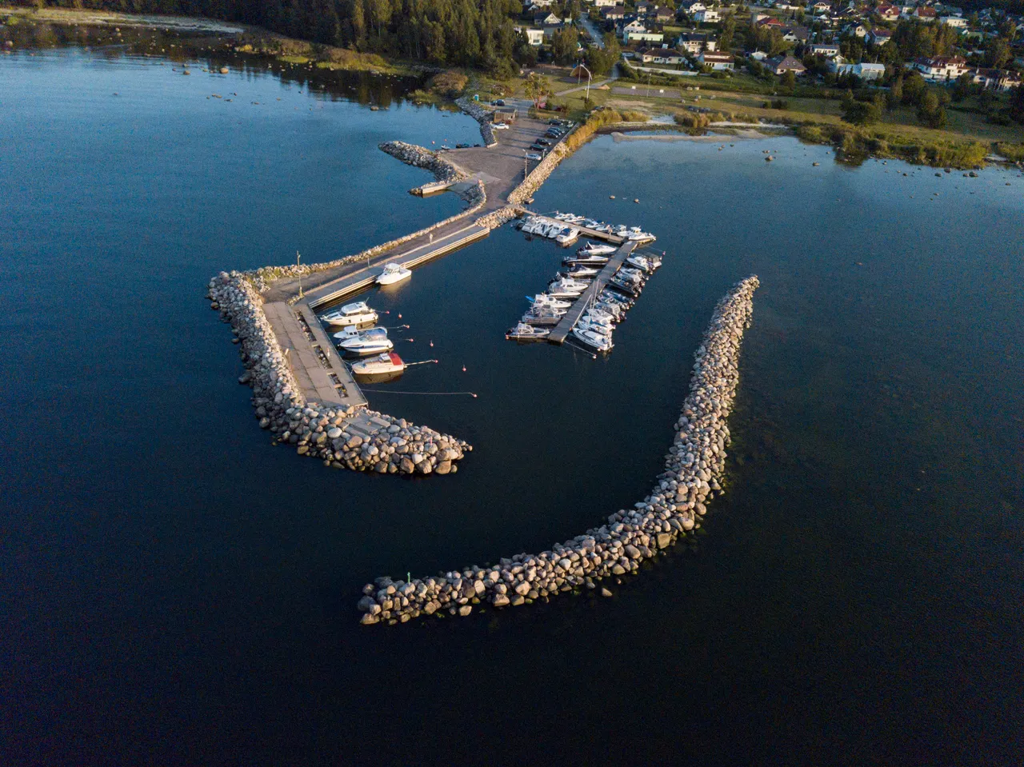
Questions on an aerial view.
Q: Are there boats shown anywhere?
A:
Yes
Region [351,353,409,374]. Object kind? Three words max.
boat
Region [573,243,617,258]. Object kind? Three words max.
boat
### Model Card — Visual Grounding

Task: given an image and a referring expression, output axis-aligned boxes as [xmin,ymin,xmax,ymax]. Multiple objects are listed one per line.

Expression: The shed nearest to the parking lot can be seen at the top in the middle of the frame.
[491,107,517,123]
